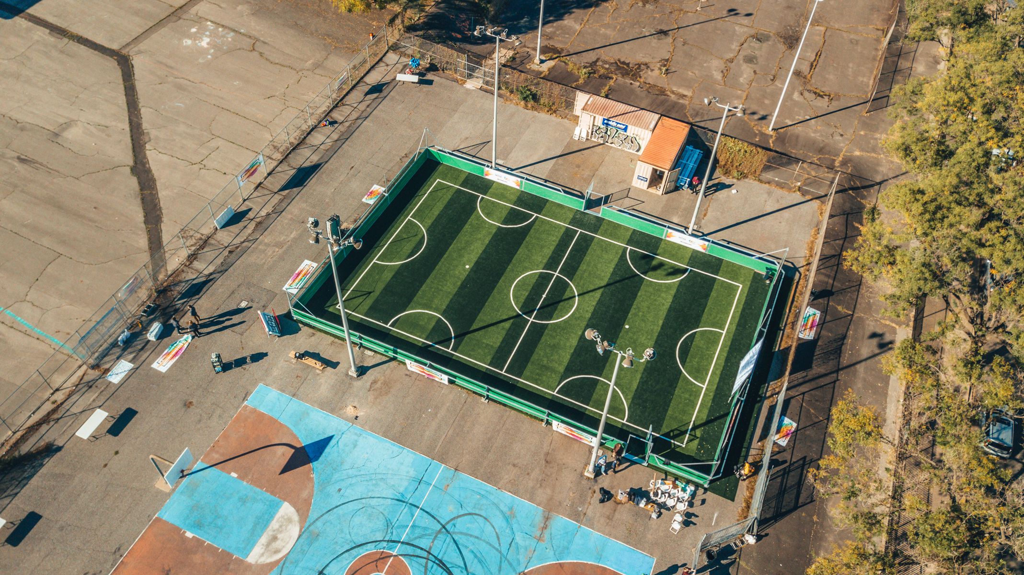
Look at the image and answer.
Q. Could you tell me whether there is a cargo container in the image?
Yes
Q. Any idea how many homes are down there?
0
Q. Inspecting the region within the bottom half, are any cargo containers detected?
No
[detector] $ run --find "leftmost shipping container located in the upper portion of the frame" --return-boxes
[574,92,660,154]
